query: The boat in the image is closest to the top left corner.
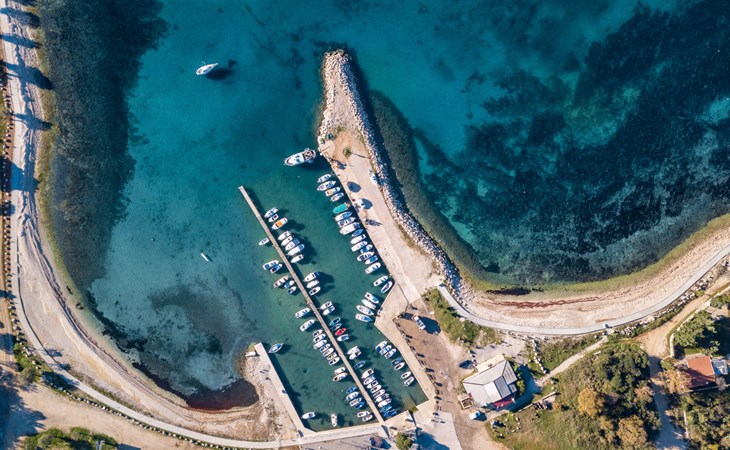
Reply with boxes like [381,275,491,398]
[195,59,217,76]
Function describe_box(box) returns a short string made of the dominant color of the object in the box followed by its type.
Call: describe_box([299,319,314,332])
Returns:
white boat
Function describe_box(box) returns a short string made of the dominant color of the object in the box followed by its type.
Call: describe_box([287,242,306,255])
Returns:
white boat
